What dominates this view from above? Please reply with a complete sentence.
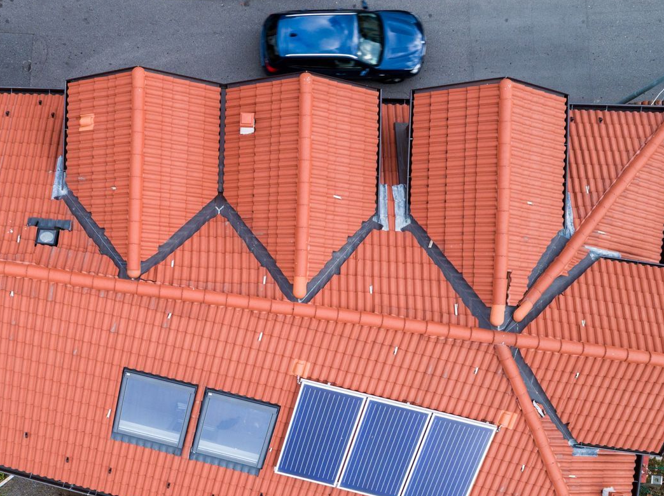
The scene is dominated by buildings.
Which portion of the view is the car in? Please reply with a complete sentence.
The car is located in the top region of the scene.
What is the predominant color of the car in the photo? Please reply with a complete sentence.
In this view, the car is blue.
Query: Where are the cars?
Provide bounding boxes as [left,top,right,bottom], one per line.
[261,1,422,87]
